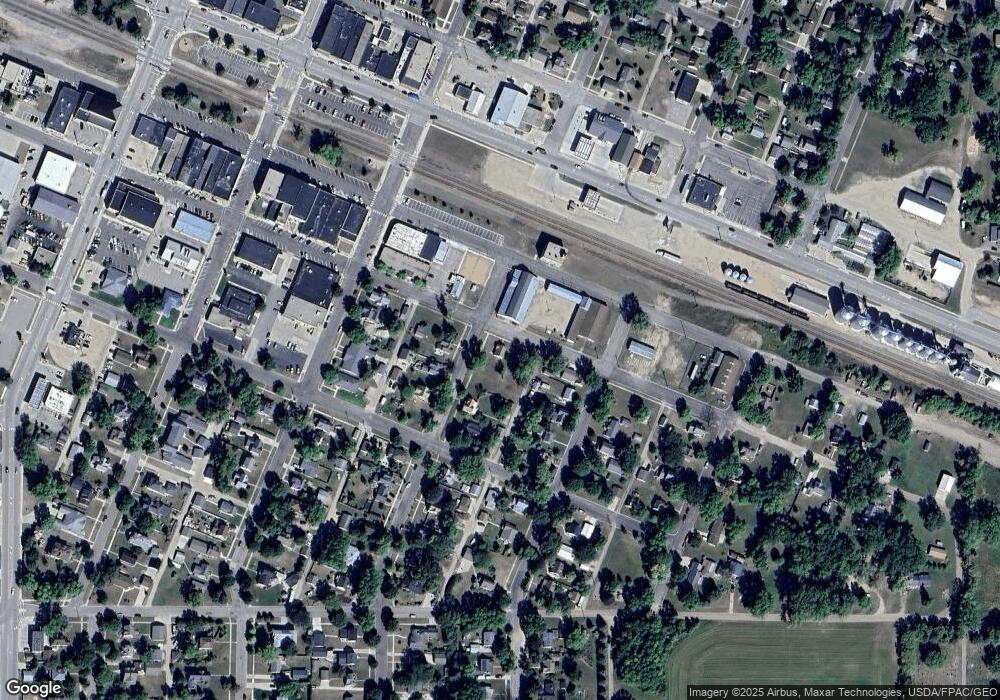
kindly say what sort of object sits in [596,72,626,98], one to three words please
house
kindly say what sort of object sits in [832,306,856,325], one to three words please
silo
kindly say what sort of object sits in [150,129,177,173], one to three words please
building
